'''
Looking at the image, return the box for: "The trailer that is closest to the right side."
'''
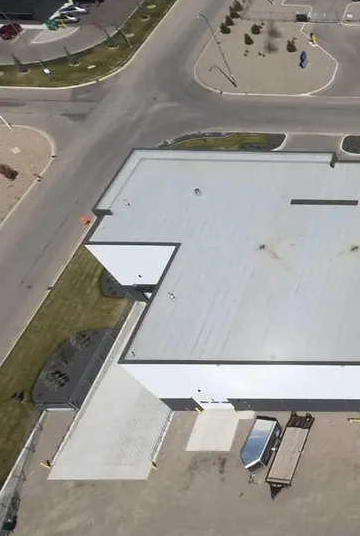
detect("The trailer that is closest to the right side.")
[267,411,317,499]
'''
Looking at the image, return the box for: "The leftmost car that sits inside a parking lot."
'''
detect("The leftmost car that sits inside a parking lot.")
[0,22,25,38]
